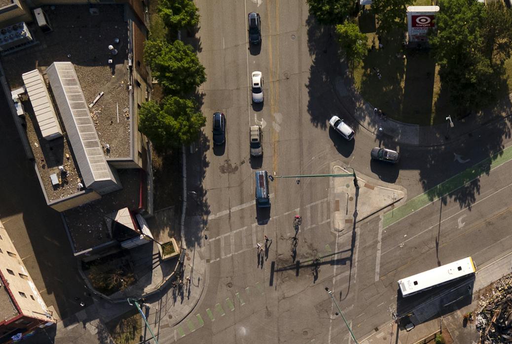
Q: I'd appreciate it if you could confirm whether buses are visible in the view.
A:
Yes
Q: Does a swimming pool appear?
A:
No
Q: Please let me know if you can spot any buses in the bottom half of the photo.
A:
Yes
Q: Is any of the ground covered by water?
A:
No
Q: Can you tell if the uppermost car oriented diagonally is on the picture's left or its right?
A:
right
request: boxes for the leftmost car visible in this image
[211,112,226,145]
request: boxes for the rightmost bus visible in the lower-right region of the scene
[399,254,479,298]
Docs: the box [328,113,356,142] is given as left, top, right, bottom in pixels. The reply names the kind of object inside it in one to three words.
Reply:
car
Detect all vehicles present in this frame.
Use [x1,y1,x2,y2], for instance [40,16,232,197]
[399,254,479,298]
[248,125,262,157]
[328,113,356,142]
[247,10,262,45]
[250,71,264,104]
[369,147,401,163]
[211,112,226,145]
[255,169,270,208]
